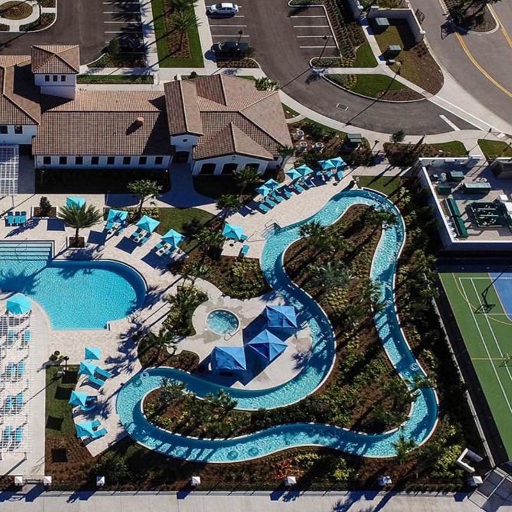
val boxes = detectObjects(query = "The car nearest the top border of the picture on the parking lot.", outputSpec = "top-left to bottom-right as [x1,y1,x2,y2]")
[208,2,240,16]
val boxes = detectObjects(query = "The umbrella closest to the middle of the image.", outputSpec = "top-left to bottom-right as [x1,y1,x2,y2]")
[225,224,243,242]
